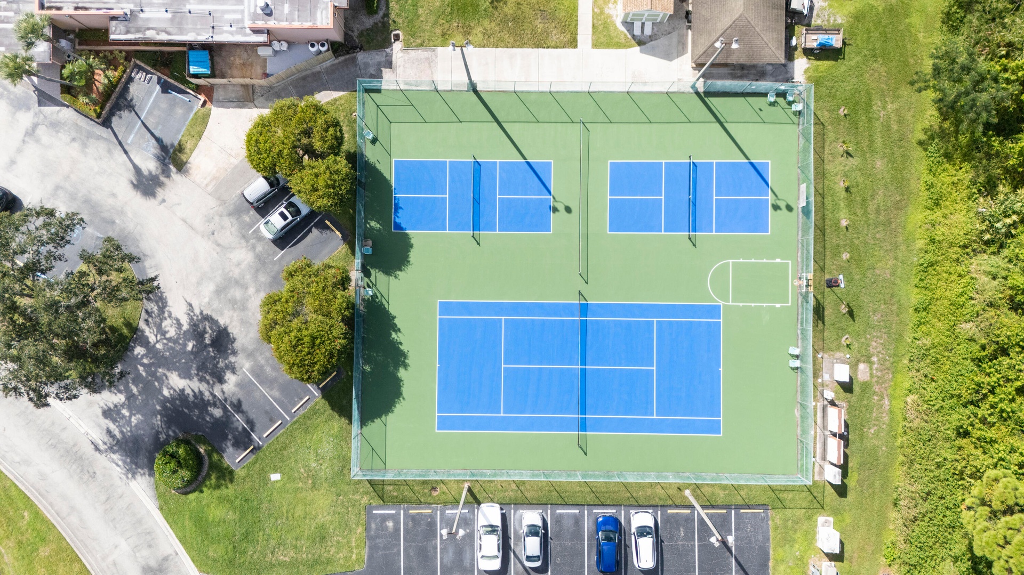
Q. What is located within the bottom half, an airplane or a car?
car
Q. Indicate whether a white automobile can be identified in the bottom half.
Yes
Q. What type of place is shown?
sports ground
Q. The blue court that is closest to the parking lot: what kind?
tennis court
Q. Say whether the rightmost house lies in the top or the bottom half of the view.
top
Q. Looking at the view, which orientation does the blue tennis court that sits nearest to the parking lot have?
horizontally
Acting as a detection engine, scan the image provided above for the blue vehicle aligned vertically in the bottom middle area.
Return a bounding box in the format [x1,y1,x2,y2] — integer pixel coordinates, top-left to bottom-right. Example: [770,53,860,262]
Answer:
[595,514,621,571]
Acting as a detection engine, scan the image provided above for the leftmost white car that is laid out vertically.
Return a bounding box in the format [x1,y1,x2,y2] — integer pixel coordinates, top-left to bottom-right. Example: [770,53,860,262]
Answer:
[476,505,503,572]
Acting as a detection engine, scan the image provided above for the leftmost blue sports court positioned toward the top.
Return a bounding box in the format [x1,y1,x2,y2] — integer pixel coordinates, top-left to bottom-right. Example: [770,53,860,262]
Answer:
[392,158,553,233]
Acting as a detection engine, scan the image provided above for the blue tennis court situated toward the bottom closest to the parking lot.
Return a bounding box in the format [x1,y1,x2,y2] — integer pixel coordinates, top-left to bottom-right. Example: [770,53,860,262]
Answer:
[435,300,722,436]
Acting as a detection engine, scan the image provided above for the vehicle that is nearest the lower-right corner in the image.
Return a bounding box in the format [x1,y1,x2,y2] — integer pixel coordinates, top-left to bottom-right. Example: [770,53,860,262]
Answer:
[630,510,657,570]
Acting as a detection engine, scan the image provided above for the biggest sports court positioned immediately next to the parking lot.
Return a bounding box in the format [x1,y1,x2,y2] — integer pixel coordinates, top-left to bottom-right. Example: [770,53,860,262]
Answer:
[360,90,802,475]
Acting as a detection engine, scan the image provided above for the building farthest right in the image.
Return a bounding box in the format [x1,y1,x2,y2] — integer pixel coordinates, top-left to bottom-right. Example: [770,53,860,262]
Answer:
[689,0,786,69]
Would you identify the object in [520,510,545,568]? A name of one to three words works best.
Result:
car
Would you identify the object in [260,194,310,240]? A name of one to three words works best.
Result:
car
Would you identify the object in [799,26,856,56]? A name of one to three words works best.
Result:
trailer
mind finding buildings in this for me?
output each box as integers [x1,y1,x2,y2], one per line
[689,0,786,69]
[621,0,672,22]
[35,0,350,50]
